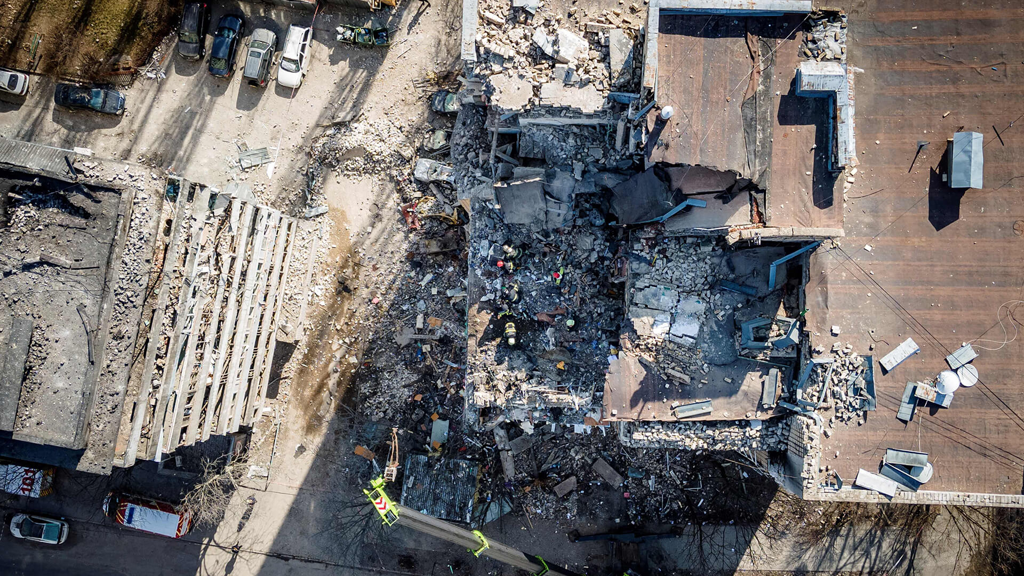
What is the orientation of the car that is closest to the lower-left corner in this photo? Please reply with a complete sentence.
What the image shows is the car that is closest to the lower-left corner lying from side to side.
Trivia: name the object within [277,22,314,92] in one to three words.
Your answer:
car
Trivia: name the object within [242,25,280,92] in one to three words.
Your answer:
car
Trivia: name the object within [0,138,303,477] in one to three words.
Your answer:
building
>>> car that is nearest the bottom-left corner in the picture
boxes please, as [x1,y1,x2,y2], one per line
[9,511,73,543]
